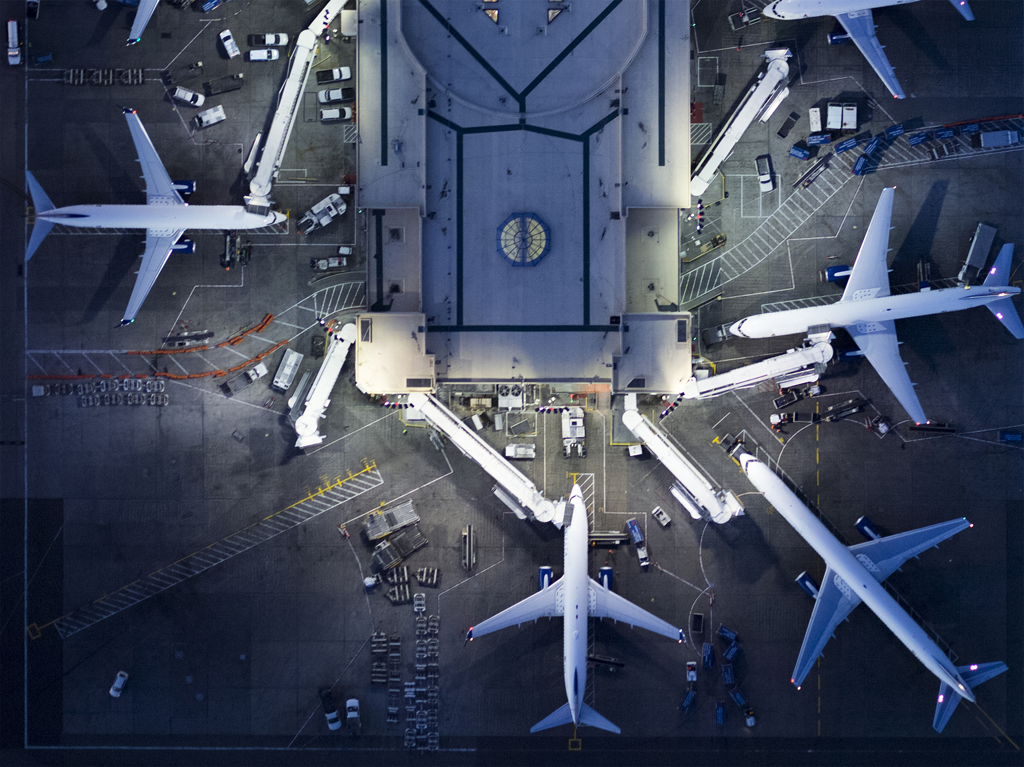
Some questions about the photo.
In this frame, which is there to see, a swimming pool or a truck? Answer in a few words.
truck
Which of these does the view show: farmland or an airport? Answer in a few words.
airport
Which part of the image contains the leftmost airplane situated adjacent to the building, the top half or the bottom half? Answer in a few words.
top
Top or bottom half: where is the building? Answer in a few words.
top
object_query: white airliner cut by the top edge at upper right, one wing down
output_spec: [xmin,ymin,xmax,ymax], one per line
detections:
[763,0,911,97]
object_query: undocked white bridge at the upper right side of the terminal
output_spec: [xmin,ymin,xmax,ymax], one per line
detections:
[691,50,796,192]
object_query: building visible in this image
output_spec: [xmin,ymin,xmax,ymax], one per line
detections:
[342,0,692,394]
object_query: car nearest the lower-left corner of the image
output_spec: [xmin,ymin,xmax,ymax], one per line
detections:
[110,671,127,698]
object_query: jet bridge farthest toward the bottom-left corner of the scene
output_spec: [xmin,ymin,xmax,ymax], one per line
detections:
[281,325,356,443]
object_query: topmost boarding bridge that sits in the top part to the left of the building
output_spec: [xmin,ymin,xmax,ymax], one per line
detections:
[241,0,349,211]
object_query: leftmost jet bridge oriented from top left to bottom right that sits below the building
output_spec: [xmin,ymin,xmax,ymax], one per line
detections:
[410,393,571,530]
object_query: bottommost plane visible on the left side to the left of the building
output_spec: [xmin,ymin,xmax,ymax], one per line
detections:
[25,106,287,326]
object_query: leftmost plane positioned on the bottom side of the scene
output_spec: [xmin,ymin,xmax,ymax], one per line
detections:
[466,485,687,734]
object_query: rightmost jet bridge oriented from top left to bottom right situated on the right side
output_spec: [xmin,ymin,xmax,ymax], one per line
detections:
[623,394,742,529]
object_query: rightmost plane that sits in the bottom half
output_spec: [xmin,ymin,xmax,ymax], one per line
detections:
[740,456,1010,734]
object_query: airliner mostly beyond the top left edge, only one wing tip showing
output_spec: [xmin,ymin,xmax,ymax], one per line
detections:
[124,0,161,44]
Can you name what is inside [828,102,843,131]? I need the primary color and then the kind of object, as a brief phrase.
white vehicle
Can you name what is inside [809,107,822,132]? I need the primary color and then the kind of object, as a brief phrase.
white vehicle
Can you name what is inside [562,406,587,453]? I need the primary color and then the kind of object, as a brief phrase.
white work vehicle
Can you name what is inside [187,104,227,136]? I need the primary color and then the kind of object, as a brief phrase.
white truck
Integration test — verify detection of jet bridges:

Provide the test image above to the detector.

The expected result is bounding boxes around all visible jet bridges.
[281,325,356,443]
[623,394,742,529]
[241,0,349,211]
[684,331,839,404]
[410,393,571,530]
[691,50,796,192]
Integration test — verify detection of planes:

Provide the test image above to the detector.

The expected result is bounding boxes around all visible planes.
[740,456,1010,734]
[729,186,1024,426]
[763,0,911,97]
[25,106,287,326]
[124,0,161,44]
[466,485,687,734]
